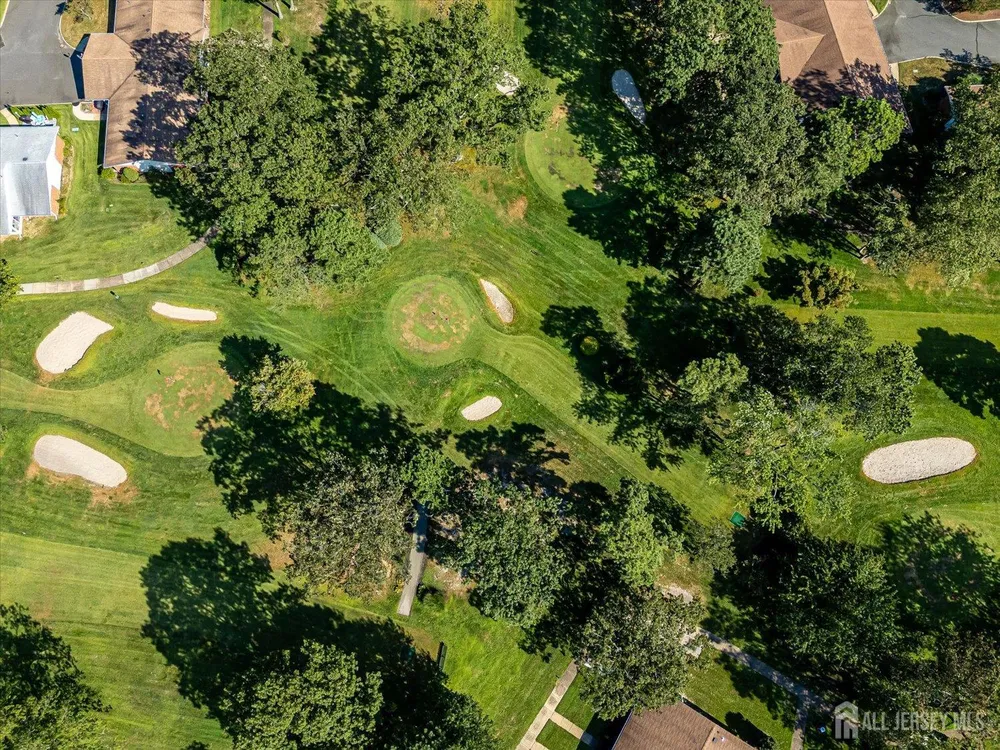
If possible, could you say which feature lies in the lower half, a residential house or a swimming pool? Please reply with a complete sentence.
You can see a residential house in the lower half.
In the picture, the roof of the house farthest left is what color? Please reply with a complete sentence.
The roof of the house farthest left is white.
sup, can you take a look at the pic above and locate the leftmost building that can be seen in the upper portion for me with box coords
[0,123,67,238]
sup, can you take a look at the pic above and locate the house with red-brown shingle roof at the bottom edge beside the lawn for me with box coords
[607,675,779,750]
